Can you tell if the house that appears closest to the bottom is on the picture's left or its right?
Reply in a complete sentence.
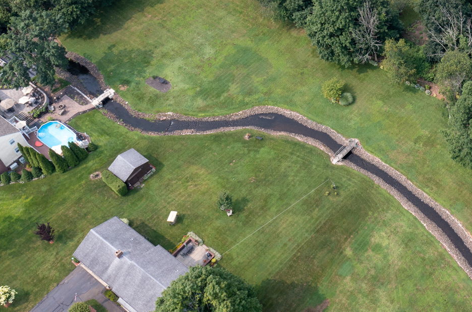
The house that appears closest to the bottom is on the left side of the image.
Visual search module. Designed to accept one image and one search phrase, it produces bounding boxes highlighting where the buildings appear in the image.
[73,217,217,312]
[108,149,150,188]
[0,108,30,173]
